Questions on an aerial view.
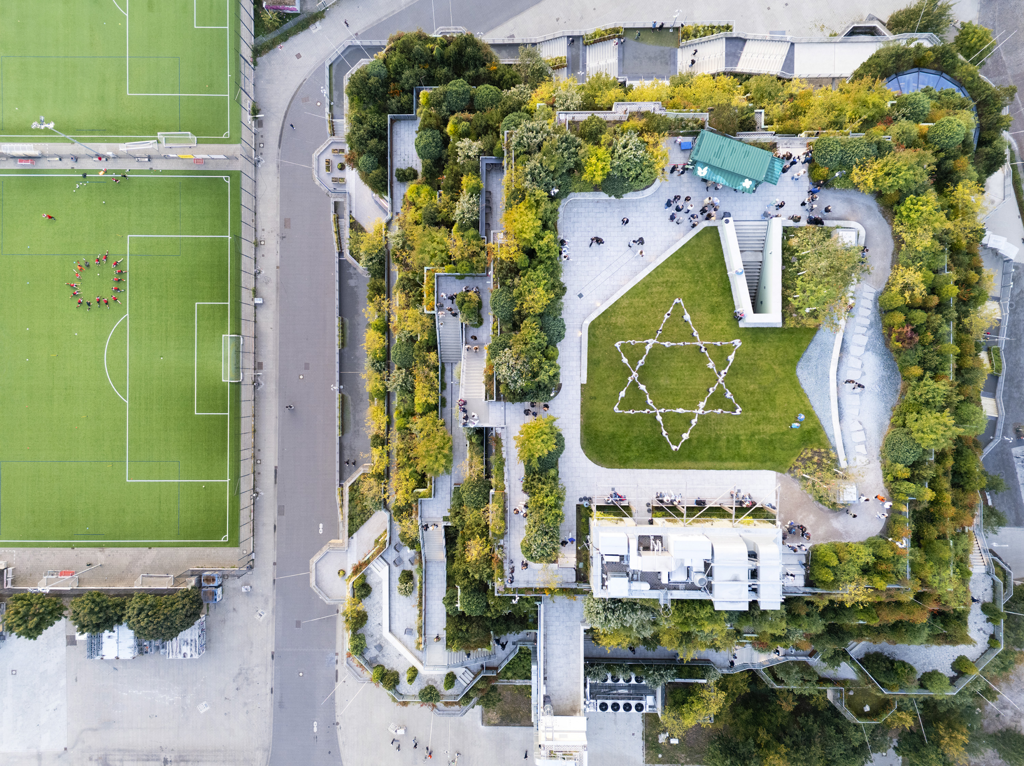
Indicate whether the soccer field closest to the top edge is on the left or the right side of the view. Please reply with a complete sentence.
You can find the soccer field closest to the top edge on the left side of the picture.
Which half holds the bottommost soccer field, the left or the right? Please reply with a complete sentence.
It is on the left.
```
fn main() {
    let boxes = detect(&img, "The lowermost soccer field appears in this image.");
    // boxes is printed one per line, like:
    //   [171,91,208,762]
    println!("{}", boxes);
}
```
[0,171,241,548]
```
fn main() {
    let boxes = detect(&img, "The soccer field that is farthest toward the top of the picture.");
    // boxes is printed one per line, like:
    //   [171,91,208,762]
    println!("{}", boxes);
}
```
[0,0,241,143]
